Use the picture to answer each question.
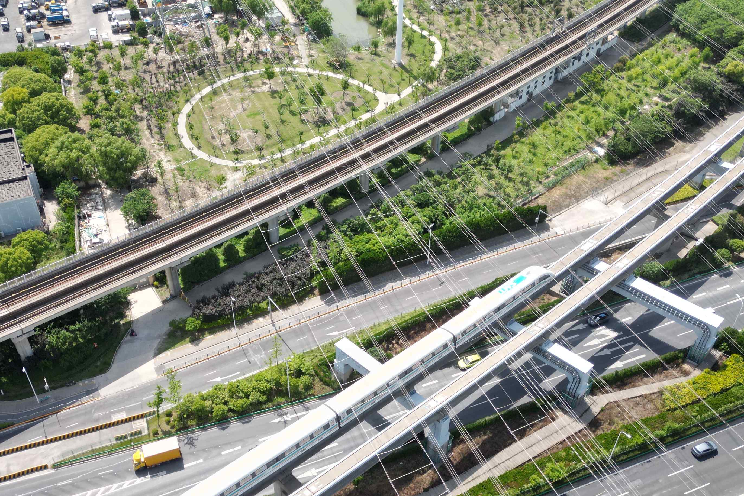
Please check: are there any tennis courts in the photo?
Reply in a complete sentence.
No, the photo shows no tennis court.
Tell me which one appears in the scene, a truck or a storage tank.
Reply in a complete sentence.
The one in the frame is a truck.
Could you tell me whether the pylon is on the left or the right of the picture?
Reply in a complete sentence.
The pylon is on the left side of the image.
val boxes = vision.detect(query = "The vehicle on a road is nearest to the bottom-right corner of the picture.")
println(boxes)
[691,441,718,458]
